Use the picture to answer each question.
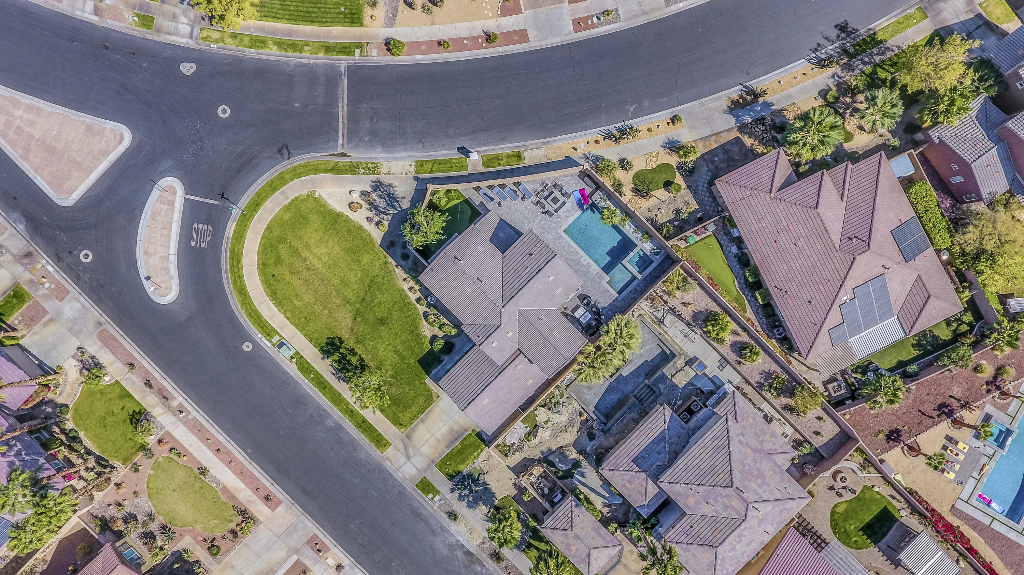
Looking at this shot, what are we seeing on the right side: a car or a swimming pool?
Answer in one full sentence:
You can see a swimming pool on the right side.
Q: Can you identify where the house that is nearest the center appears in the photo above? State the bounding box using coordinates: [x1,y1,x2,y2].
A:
[419,210,589,436]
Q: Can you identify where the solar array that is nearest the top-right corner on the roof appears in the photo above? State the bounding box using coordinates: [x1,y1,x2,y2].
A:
[892,216,933,263]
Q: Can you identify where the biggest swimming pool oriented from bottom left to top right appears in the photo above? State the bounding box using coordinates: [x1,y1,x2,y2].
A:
[590,348,682,431]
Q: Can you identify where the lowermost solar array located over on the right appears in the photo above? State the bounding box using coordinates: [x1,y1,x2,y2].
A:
[829,274,895,347]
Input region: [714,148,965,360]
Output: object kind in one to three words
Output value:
house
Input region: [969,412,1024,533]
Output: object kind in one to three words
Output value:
swimming pool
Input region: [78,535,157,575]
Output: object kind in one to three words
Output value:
house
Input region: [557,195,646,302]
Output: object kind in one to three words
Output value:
swimming pool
